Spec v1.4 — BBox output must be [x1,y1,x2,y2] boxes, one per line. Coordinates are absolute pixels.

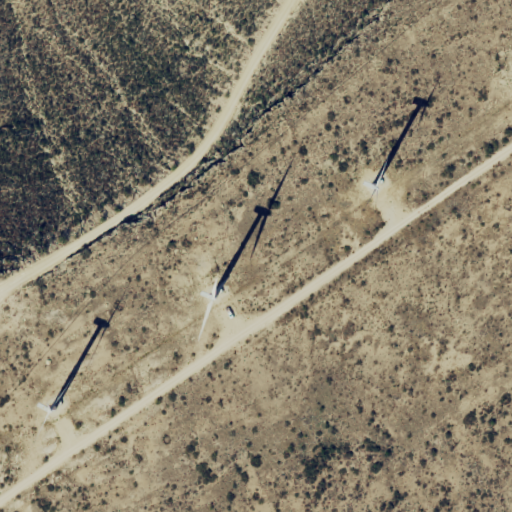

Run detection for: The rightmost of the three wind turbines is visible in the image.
[362,148,392,218]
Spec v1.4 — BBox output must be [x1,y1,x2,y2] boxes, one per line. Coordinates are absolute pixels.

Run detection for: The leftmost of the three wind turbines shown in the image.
[36,371,64,436]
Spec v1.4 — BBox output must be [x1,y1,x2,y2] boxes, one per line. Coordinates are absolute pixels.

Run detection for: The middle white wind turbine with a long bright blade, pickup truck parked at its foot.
[197,276,226,338]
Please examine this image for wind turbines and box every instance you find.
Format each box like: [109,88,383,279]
[362,148,392,218]
[36,371,64,436]
[197,276,226,338]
